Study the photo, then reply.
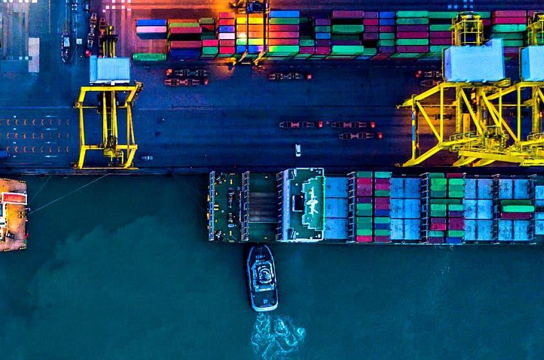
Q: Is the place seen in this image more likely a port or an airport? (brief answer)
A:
port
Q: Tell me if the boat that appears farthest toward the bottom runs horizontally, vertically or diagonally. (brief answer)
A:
vertically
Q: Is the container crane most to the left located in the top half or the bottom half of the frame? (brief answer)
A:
top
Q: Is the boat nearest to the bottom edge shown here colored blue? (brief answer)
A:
Yes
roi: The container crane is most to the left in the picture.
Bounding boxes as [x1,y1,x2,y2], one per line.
[72,26,147,168]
